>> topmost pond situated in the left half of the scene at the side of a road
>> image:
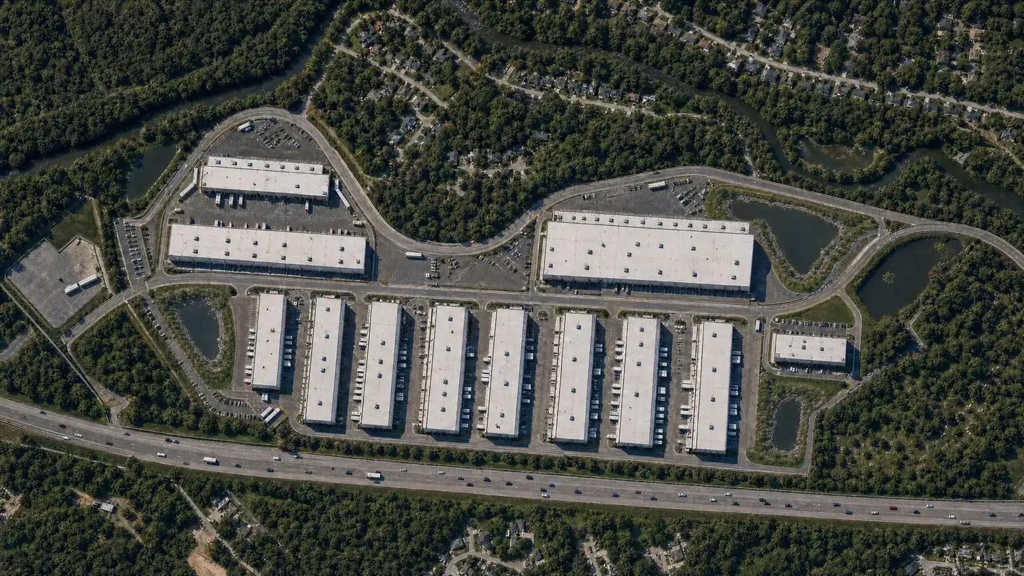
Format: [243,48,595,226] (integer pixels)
[125,144,179,201]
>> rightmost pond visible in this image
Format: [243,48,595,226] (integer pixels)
[857,238,963,322]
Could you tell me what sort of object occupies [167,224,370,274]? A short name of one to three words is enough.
building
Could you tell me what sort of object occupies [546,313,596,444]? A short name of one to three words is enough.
building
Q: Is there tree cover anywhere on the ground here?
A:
Yes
